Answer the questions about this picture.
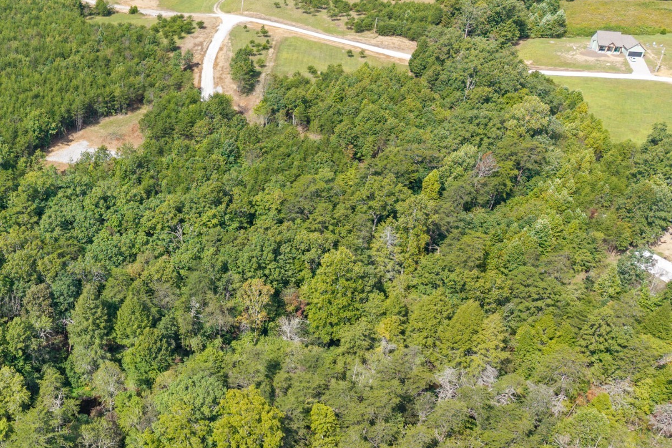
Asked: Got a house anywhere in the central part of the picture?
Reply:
No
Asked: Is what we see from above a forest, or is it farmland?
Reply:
forest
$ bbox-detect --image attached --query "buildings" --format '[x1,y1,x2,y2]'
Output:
[632,251,672,285]
[592,31,646,59]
